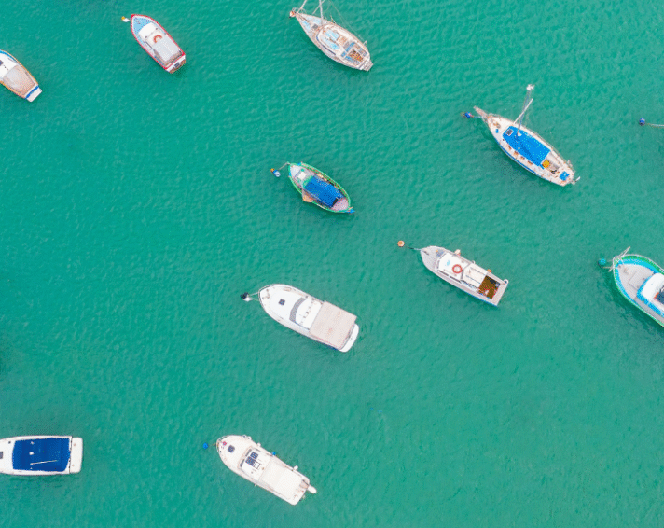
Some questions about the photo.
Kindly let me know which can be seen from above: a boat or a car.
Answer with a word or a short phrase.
boat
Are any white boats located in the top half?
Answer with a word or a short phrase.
Yes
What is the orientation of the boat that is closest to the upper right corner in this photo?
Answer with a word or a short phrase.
diagonally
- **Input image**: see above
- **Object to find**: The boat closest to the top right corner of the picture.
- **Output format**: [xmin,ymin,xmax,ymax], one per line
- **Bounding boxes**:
[474,85,582,190]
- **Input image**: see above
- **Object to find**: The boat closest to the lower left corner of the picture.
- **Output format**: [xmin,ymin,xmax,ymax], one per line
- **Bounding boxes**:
[0,435,84,475]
